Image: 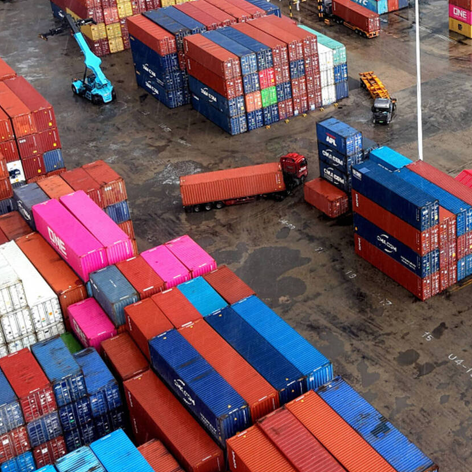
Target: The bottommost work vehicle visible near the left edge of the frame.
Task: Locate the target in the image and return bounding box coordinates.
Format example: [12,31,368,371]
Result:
[23,15,115,101]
